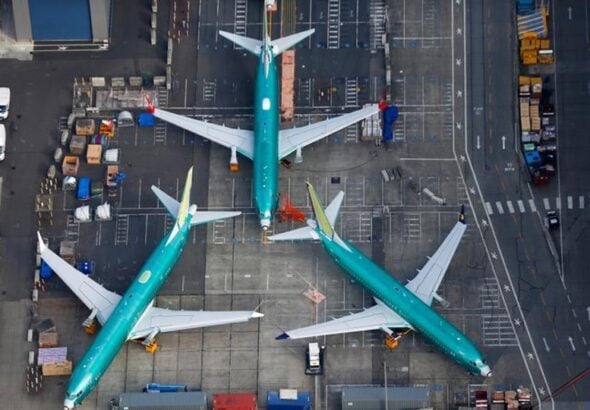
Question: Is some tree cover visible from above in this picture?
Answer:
No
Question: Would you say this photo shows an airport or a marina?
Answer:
airport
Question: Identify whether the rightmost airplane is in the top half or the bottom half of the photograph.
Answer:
bottom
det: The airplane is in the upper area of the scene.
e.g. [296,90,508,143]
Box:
[143,0,390,229]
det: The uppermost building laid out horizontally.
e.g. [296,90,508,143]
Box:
[13,0,108,44]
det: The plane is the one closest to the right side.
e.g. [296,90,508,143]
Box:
[267,182,490,377]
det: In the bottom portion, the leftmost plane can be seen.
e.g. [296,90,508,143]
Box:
[33,167,267,410]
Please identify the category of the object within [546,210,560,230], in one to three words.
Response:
vehicle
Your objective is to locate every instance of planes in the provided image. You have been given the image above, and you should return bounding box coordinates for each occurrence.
[267,182,490,377]
[33,167,267,410]
[143,0,390,229]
